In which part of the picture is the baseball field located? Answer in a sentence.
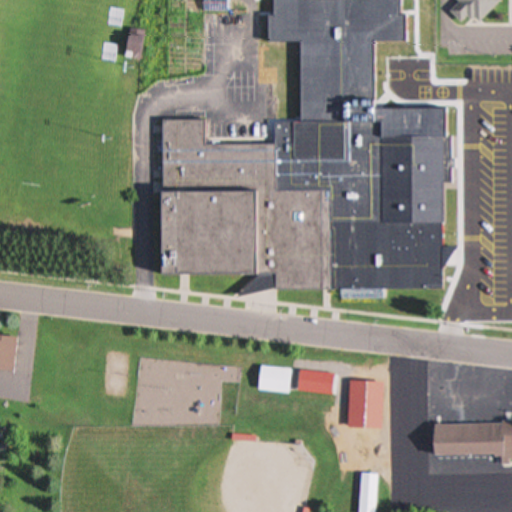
The baseball field sits in the bottom section of the image.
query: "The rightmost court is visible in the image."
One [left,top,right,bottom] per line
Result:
[390,59,464,99]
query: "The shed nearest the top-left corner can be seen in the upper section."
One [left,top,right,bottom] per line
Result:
[125,29,146,60]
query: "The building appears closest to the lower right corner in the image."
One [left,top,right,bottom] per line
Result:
[433,416,512,468]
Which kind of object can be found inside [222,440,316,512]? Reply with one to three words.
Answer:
baseball field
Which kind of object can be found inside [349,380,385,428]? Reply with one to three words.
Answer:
barn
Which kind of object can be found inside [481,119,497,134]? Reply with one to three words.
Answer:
vehicle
